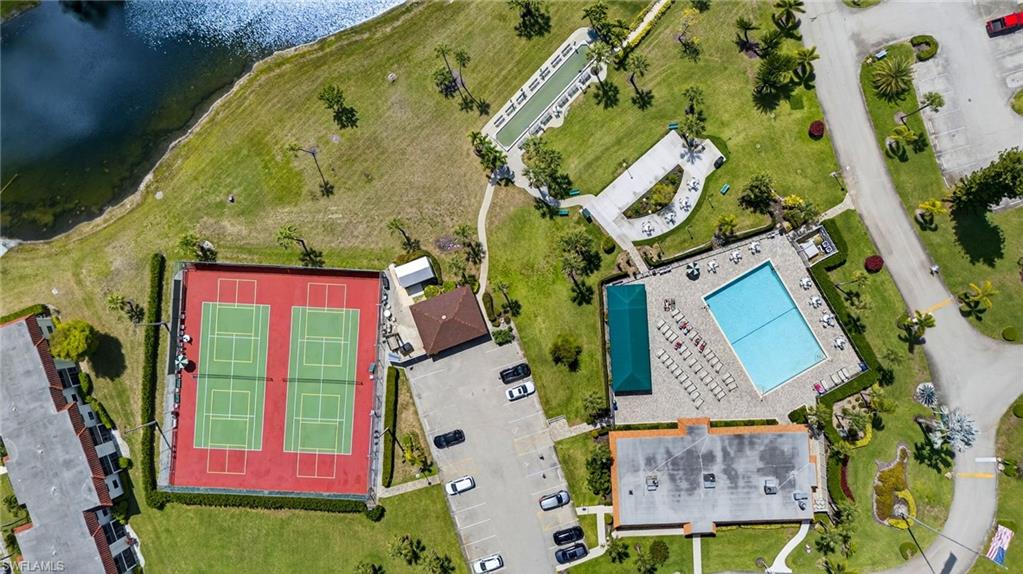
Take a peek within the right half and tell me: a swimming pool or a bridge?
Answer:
swimming pool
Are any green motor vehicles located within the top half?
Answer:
No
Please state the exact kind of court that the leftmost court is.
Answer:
tennis court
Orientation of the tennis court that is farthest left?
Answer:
up and down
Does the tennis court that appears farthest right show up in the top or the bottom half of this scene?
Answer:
bottom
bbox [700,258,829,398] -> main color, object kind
blue swimming pool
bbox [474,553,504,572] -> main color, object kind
white car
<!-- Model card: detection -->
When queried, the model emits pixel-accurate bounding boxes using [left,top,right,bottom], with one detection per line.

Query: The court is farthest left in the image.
[174,266,283,490]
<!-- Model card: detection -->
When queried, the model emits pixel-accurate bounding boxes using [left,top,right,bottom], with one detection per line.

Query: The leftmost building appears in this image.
[0,314,133,574]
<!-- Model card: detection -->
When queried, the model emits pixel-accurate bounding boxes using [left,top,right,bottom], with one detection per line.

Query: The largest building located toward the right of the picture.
[609,417,817,536]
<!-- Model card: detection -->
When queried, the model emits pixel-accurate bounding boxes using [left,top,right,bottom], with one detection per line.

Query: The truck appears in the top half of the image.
[981,9,1023,33]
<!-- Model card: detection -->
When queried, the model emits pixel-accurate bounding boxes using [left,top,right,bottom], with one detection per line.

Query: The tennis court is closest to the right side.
[273,269,382,494]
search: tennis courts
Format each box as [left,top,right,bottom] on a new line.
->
[174,266,283,490]
[273,269,382,494]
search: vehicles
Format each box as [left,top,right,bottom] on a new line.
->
[434,428,466,447]
[499,363,531,382]
[505,382,535,400]
[474,553,504,572]
[981,9,1023,33]
[552,524,584,545]
[538,488,570,508]
[553,542,587,562]
[446,475,476,494]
